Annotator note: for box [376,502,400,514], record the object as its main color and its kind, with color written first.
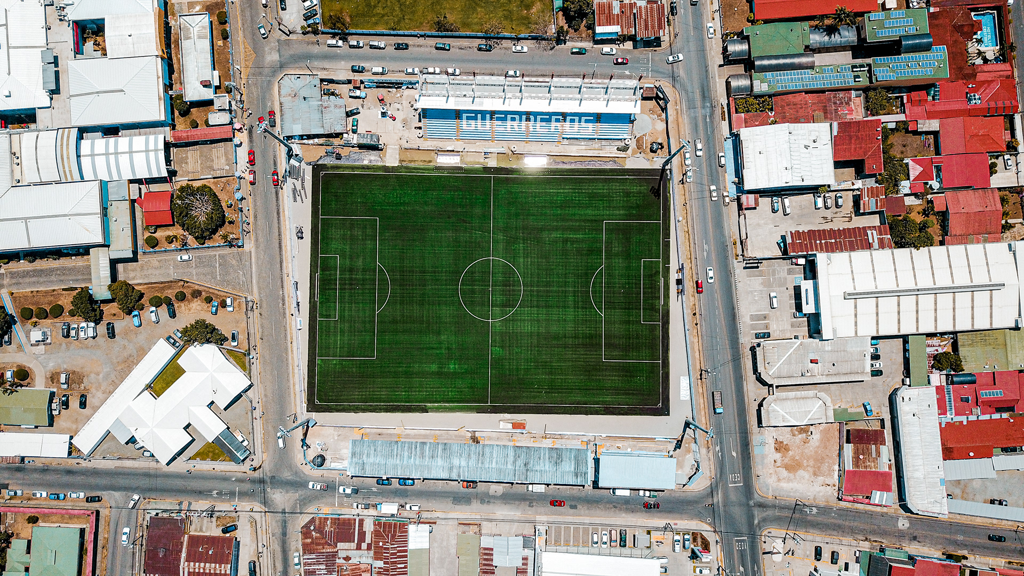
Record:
white vehicle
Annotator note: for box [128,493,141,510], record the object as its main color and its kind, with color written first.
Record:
white vehicle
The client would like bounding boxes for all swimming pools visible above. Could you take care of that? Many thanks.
[971,11,996,50]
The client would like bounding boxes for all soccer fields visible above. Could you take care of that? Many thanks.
[307,164,670,416]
